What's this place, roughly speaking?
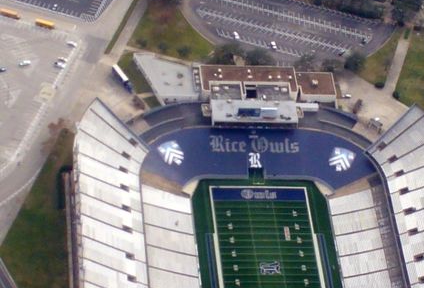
sports ground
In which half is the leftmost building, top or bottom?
top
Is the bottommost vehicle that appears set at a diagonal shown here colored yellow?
No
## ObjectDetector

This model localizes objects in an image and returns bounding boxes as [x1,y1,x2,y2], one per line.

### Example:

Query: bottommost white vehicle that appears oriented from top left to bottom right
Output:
[112,61,131,86]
